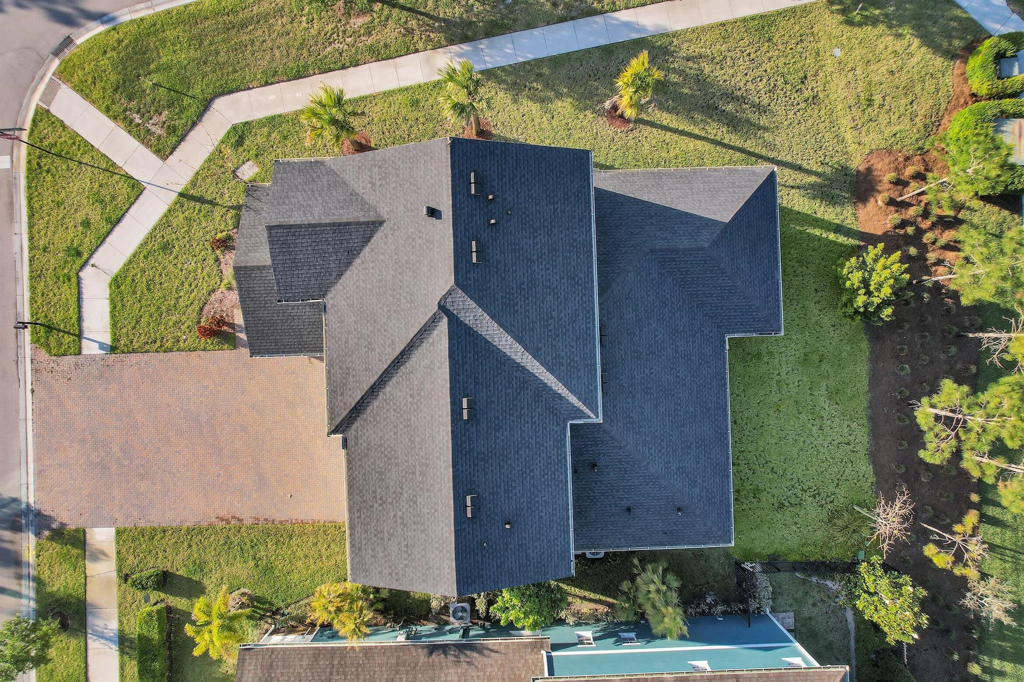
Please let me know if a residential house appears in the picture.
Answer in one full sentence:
Yes, looking at the shot, I can spot a residential house.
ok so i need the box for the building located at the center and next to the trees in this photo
[232,137,787,597]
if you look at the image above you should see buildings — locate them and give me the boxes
[232,137,787,597]
[230,614,850,682]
